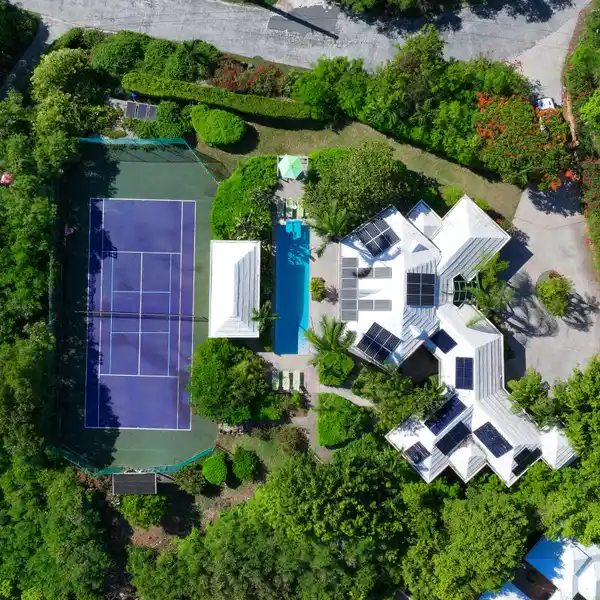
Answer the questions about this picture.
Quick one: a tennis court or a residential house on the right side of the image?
residential house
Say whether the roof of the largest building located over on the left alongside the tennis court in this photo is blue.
No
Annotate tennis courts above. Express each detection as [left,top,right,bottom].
[62,147,220,466]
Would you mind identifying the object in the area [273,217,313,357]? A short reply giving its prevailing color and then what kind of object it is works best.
blue swimming pool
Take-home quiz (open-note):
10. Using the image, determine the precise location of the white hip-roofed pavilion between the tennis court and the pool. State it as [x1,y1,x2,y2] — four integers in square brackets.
[209,240,261,338]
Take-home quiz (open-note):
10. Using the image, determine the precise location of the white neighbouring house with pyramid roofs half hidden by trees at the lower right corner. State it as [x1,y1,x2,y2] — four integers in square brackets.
[480,529,600,600]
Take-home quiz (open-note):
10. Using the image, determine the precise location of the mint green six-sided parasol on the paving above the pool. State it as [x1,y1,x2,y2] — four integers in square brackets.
[279,153,305,181]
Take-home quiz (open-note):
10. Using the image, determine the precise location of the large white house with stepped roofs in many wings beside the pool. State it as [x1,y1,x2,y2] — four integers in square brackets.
[340,195,571,486]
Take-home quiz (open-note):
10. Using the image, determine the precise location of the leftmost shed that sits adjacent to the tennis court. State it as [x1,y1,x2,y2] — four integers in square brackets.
[112,472,159,495]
